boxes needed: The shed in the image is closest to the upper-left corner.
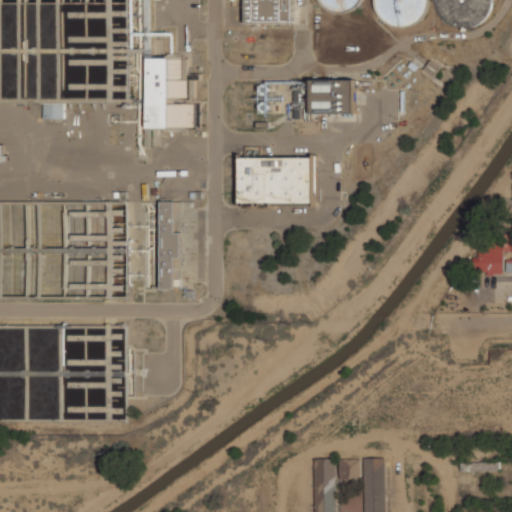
[42,104,66,119]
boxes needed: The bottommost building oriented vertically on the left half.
[158,202,178,288]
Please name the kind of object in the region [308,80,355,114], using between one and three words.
building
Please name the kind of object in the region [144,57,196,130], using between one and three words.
building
